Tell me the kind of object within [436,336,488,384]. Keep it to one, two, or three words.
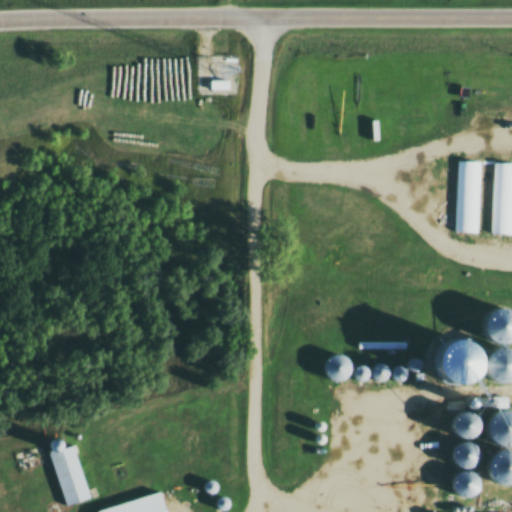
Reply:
silo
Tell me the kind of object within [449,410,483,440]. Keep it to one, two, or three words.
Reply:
silo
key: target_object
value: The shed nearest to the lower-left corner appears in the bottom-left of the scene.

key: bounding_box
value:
[52,446,92,506]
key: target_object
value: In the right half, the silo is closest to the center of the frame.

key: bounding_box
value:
[323,354,354,382]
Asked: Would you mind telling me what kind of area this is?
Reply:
industrial area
